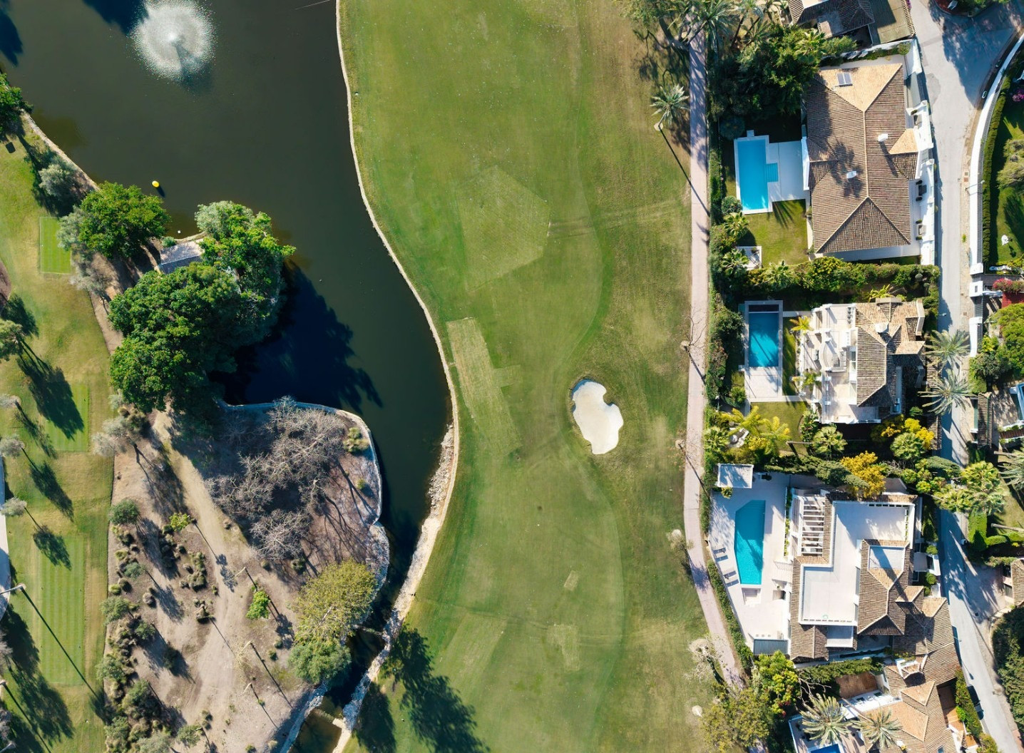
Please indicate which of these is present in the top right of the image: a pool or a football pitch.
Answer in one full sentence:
The feature located in the top right of the image is a pool.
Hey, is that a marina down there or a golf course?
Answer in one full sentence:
It's a golf course.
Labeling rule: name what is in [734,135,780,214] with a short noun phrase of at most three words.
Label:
swimming pool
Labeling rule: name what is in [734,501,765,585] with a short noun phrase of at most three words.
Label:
swimming pool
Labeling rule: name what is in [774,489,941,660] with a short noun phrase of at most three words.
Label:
house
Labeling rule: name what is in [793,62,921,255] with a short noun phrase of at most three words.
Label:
house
